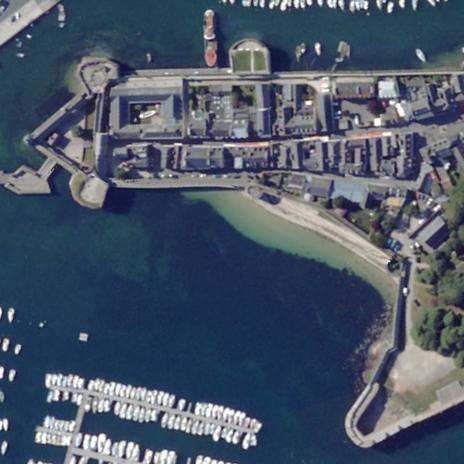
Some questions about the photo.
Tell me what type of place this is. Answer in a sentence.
The area seen from above is a residential area.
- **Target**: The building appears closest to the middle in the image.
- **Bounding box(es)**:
[250,184,279,204]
